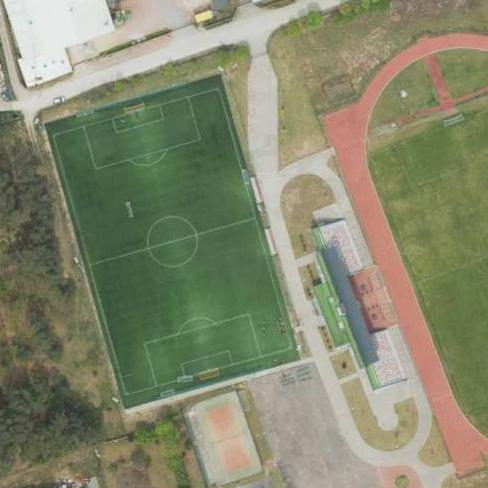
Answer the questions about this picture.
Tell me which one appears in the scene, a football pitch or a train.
football pitch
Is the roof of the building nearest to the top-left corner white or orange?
white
